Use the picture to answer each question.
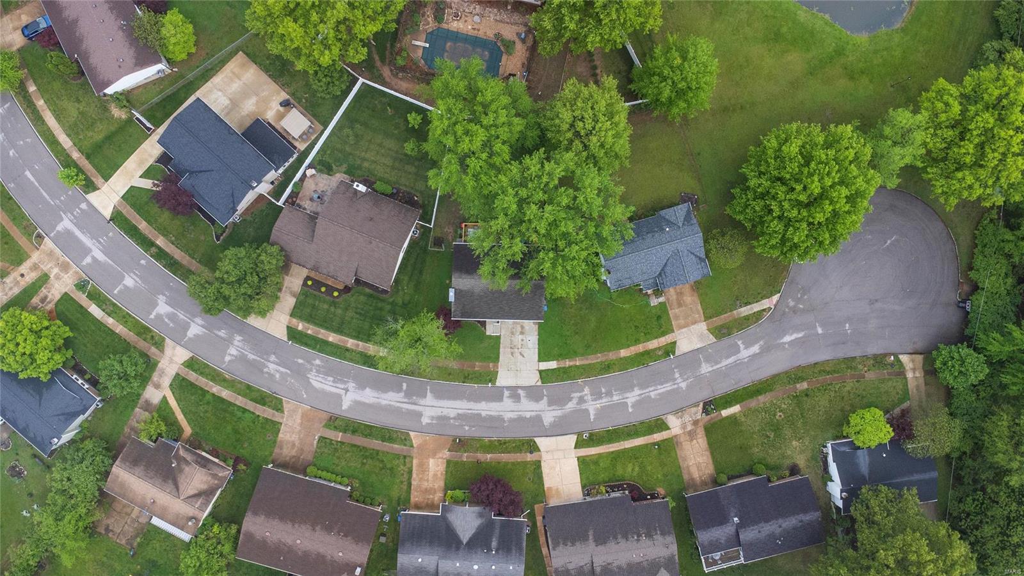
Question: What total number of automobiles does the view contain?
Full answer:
In total, 1 automobile can be seen.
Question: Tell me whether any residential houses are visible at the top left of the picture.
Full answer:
Yes, at the top left of the picture there is a residential house.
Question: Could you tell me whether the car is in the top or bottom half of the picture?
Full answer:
It is in the top half that the car appears.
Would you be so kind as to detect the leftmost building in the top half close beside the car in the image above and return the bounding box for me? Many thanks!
[40,0,169,97]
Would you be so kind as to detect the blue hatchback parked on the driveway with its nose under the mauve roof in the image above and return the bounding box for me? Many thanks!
[18,14,50,36]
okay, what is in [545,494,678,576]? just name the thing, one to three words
house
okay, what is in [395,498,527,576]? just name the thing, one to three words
house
